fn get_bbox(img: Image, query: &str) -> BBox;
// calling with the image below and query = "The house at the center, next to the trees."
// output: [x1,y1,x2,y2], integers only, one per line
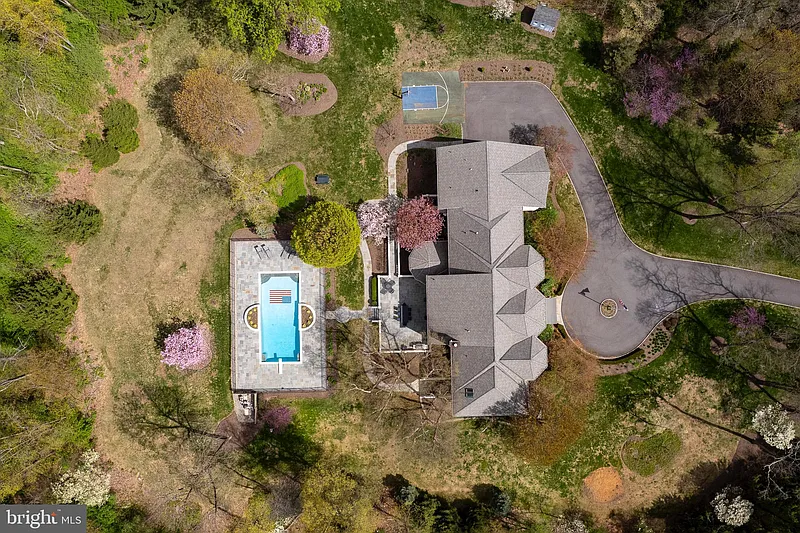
[409,140,555,417]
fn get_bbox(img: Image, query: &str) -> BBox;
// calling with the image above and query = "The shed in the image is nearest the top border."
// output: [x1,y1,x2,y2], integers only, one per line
[530,6,560,33]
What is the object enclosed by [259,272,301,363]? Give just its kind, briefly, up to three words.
swimming pool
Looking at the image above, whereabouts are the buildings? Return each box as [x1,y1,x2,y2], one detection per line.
[409,140,555,417]
[530,6,560,33]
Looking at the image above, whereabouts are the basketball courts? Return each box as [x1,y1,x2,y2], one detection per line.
[402,71,465,123]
